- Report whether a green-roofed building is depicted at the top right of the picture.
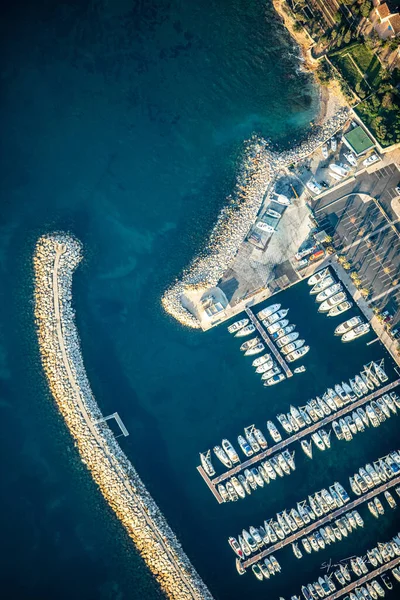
Yes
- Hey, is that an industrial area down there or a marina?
marina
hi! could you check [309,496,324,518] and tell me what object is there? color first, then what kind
white boat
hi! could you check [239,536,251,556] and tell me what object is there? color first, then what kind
white boat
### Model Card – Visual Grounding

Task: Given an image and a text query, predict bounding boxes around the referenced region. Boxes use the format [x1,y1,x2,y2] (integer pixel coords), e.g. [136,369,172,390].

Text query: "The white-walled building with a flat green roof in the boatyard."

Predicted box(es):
[343,125,375,159]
